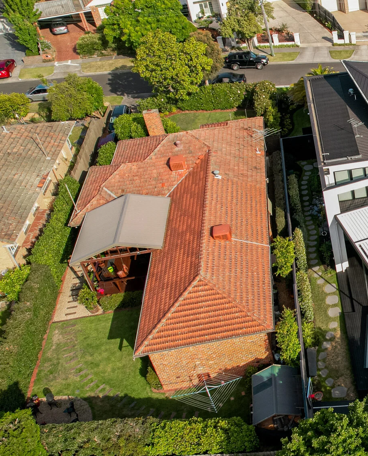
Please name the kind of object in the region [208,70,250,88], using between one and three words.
car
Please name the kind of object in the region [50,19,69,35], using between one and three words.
car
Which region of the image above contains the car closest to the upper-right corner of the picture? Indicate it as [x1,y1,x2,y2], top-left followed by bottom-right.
[226,48,268,69]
